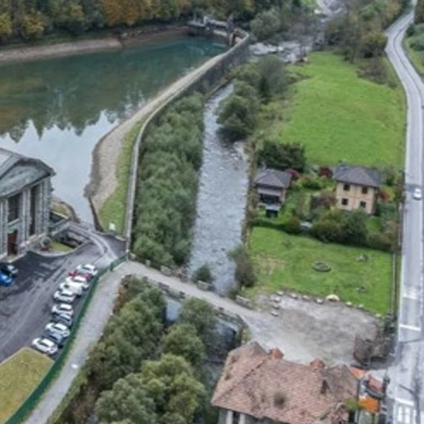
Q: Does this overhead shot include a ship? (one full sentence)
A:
No, I can see no ship in this picture.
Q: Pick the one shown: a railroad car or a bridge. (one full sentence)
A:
It is a bridge that can be seen here.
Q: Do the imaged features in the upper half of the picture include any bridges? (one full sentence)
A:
No, no bridge appears in the upper half of the picture.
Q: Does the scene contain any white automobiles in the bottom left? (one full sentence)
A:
Yes, in the bottom left there is a white automobile.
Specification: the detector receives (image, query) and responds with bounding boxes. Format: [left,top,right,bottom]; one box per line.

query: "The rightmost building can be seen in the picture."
[338,162,383,208]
